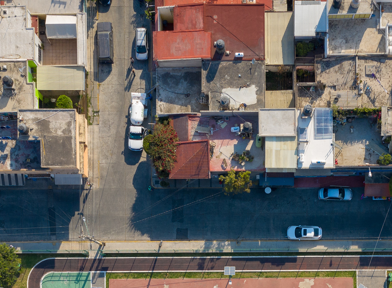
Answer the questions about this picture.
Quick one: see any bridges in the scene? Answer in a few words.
No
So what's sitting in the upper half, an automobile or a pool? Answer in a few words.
automobile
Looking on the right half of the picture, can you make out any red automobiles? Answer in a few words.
No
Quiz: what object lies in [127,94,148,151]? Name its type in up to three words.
truck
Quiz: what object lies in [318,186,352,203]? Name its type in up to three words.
car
